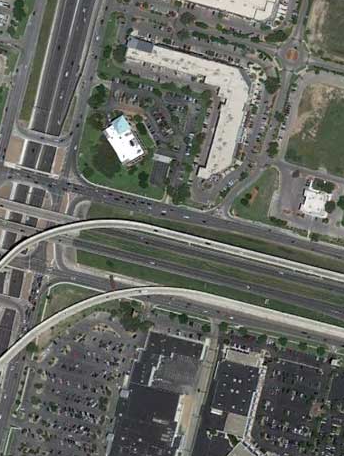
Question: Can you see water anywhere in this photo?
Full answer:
No, no water is visible.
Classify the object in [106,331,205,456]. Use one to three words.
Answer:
building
